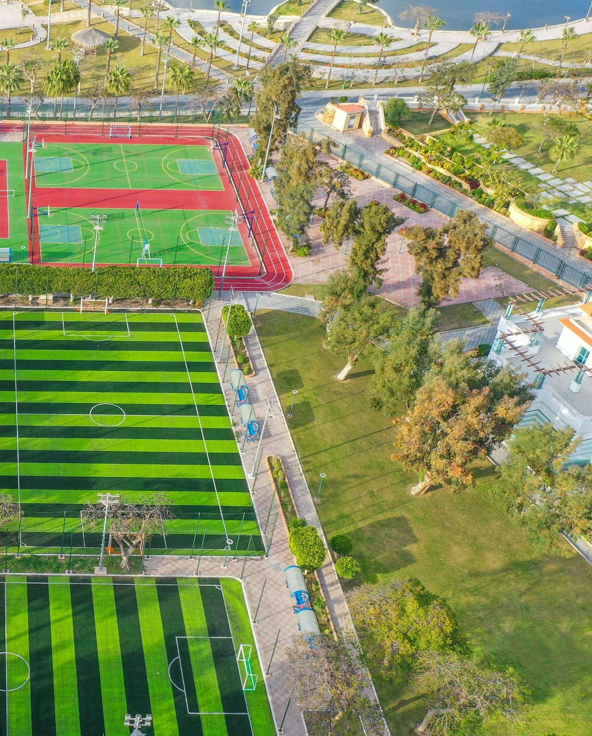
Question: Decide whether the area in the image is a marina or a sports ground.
sports ground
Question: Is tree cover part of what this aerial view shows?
Yes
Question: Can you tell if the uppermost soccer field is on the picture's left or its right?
left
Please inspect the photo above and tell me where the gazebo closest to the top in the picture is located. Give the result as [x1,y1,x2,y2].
[70,25,110,56]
